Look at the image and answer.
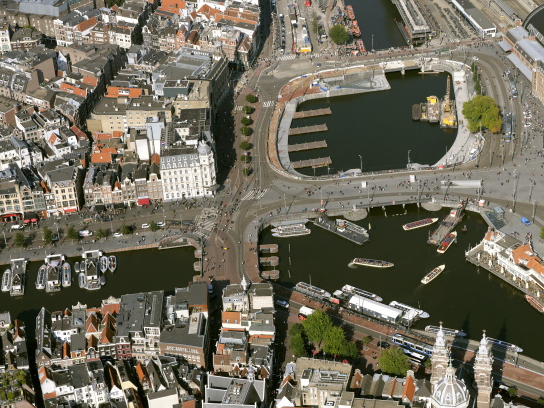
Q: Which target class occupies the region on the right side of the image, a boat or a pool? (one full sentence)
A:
What appears on the right side of the image is a boat.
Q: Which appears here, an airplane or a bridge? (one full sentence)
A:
It is a bridge that can be seen here.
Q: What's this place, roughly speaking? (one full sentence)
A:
What you see here is a residential area.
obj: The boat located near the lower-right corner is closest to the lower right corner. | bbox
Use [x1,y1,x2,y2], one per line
[483,336,522,352]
